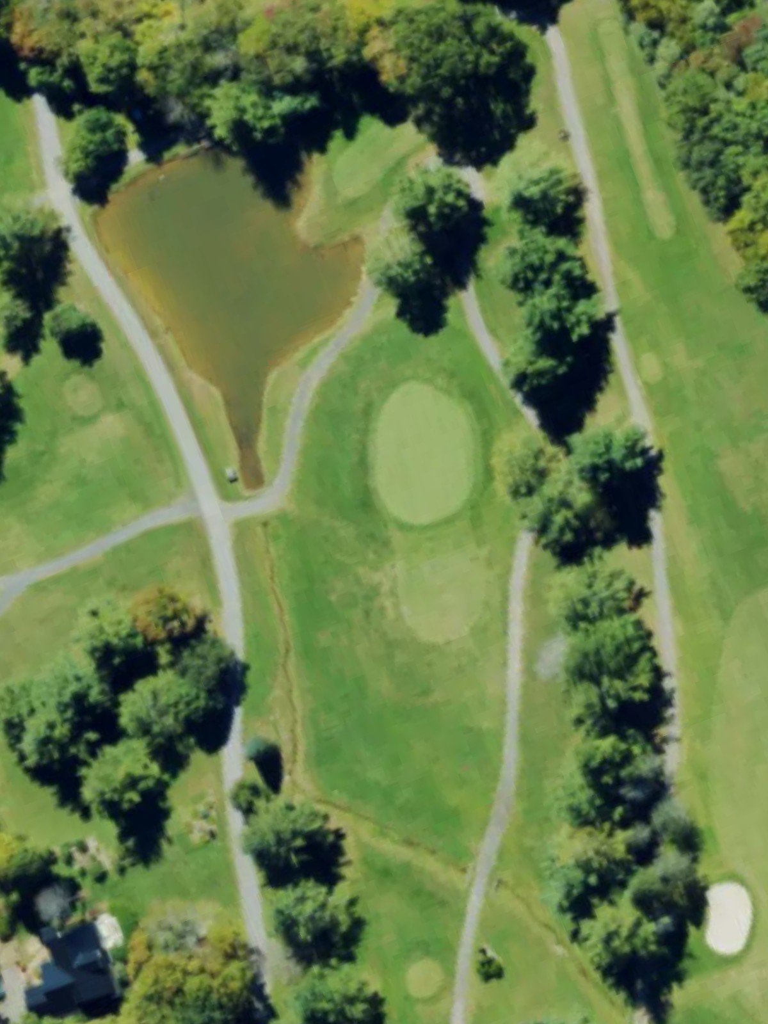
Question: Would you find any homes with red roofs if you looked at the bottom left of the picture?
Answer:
No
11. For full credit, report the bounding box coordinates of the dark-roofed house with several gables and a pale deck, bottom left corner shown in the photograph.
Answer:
[21,913,123,1017]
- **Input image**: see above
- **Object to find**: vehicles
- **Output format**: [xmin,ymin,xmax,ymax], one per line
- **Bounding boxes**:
[0,977,5,997]
[226,468,237,481]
